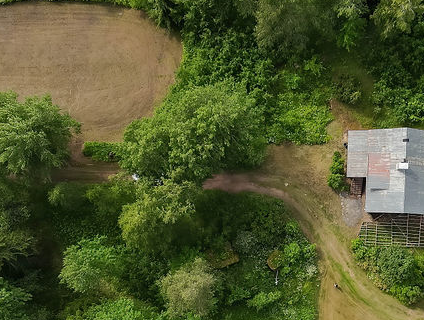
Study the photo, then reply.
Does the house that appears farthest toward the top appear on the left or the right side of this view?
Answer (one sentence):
It is on the right.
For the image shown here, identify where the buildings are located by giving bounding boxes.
[208,246,240,268]
[346,127,424,215]
[267,251,281,270]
